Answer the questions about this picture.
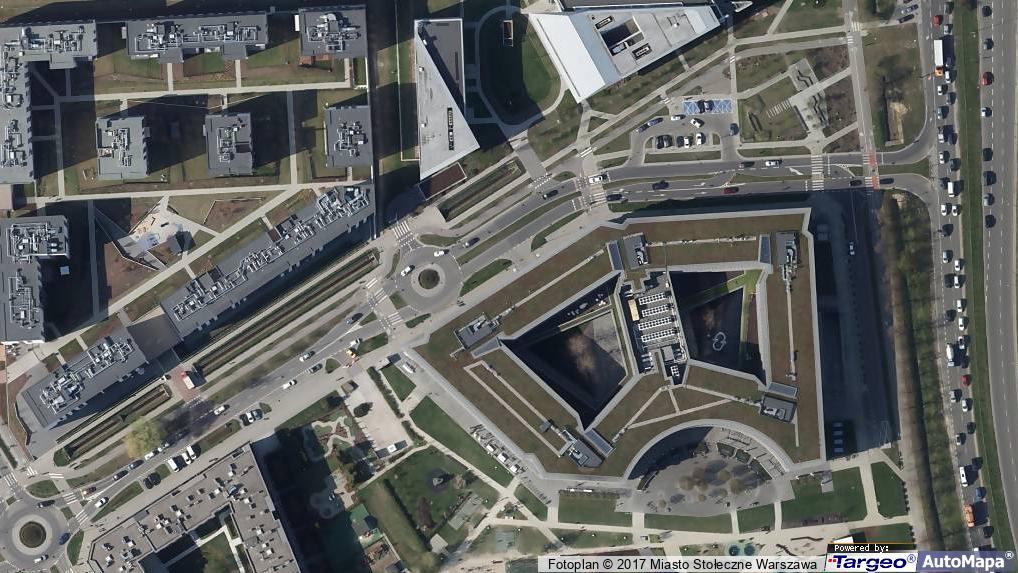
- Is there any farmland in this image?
No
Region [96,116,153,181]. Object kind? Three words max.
building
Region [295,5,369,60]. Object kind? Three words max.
building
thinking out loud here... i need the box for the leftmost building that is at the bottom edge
[88,441,305,573]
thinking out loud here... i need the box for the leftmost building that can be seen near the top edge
[0,19,101,185]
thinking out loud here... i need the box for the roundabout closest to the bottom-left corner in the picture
[13,515,53,555]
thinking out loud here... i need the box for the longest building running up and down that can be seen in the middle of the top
[415,18,480,180]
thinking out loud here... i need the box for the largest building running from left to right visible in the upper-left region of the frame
[121,10,270,63]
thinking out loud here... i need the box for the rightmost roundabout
[412,261,446,295]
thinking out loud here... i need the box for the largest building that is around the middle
[404,208,826,480]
